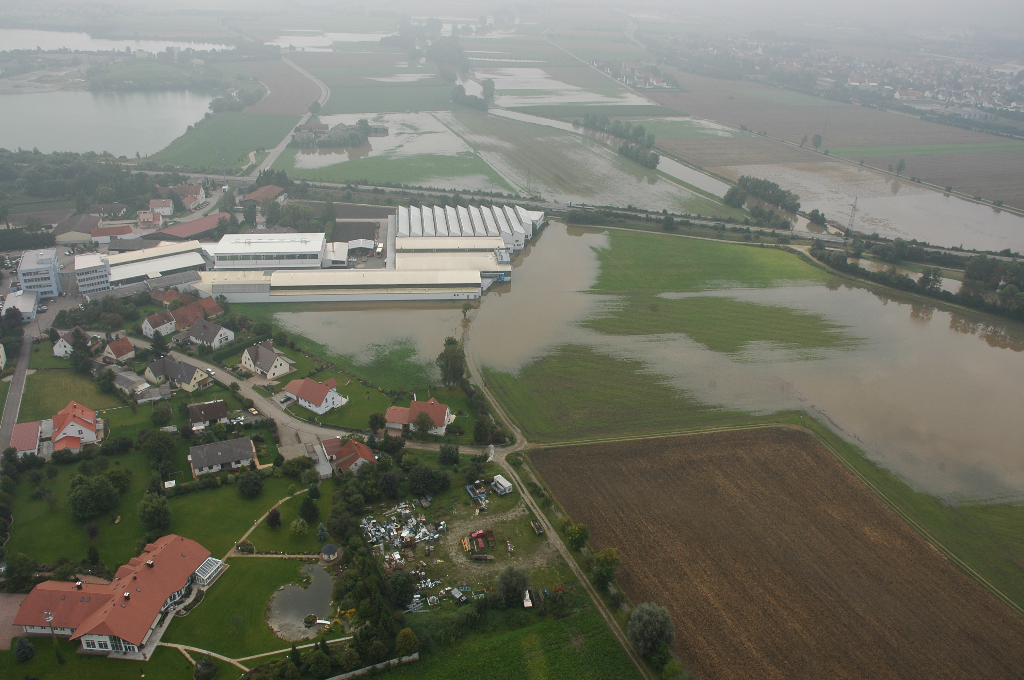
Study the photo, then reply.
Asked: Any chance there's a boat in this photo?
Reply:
No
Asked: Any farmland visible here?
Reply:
Yes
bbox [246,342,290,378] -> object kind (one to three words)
house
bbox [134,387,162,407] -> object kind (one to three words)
shed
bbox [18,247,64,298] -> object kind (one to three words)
building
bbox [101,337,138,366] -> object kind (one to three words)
house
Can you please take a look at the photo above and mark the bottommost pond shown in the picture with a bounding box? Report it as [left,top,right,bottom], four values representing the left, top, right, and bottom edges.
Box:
[267,561,333,639]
